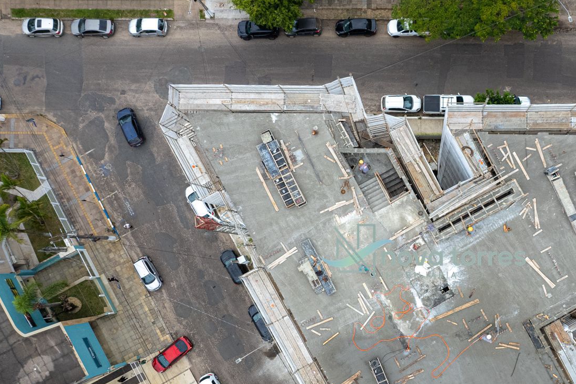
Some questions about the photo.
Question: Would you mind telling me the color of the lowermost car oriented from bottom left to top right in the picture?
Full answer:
The color of the lowermost car oriented from bottom left to top right is red.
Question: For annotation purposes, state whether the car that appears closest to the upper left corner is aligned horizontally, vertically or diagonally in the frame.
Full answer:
The car that appears closest to the upper left corner runs horizontally in the image.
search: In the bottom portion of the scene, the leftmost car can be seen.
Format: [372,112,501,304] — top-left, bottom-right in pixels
[133,254,165,291]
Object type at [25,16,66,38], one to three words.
car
